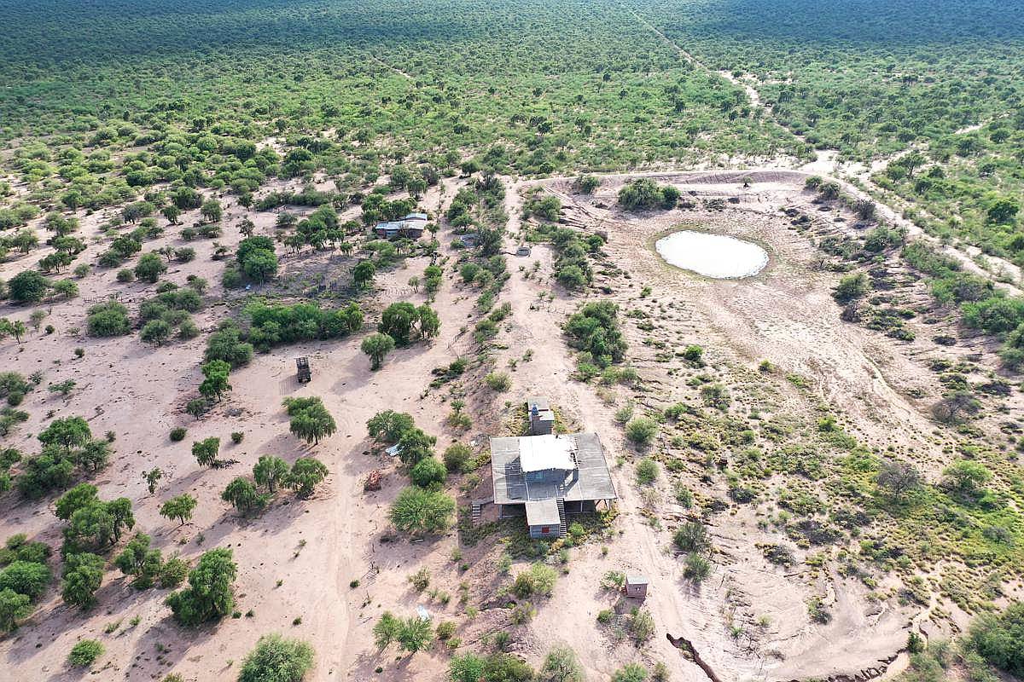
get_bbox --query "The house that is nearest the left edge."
[376,213,430,241]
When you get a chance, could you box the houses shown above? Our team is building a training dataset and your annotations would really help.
[376,213,430,241]
[472,431,615,536]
